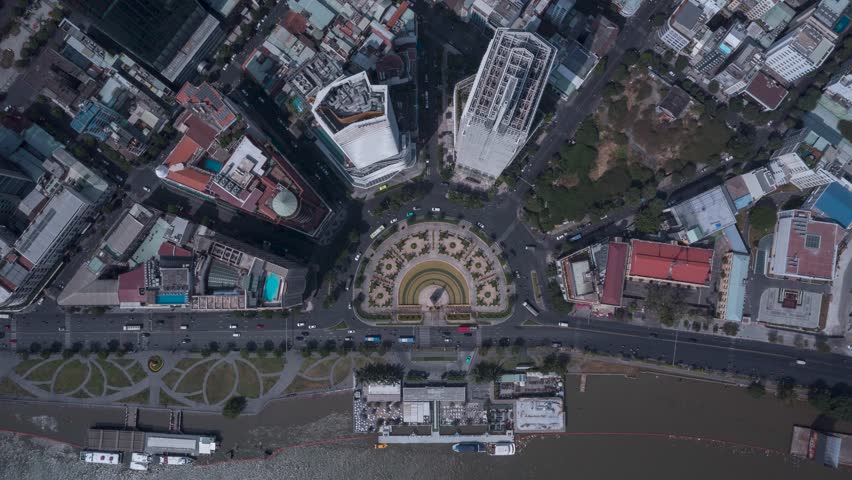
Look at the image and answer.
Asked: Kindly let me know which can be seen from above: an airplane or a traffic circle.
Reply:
traffic circle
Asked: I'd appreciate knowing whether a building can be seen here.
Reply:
Yes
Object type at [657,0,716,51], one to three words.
building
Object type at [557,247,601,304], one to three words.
building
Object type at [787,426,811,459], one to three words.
pier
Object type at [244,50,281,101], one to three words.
house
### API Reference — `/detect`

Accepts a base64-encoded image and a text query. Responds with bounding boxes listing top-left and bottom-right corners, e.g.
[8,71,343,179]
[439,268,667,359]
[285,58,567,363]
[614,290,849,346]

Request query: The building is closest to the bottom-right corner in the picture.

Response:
[807,430,841,468]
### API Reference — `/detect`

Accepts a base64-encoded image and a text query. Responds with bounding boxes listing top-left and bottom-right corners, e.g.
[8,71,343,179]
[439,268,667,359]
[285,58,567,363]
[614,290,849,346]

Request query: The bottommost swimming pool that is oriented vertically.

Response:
[265,273,280,301]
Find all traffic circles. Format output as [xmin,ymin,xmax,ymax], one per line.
[354,218,512,325]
